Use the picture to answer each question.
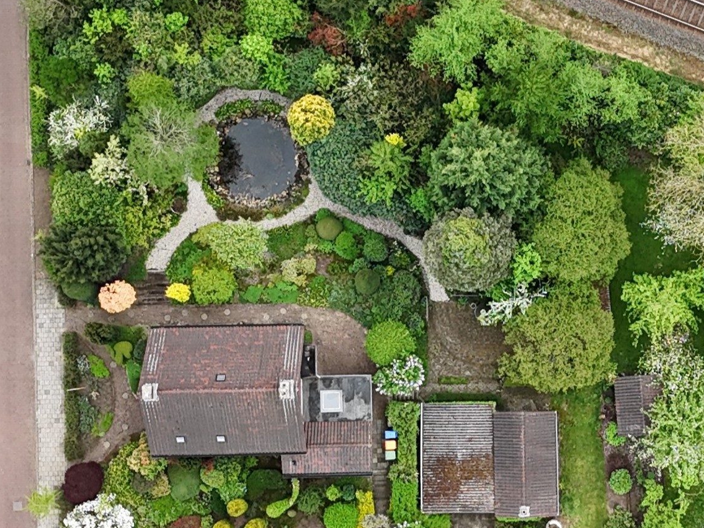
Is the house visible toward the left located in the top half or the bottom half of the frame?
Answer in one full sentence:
The bottom half of the photo is where the house visible toward the left is.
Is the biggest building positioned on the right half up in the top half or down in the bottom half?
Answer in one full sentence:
You can find the biggest building positioned on the right half in the bottom half.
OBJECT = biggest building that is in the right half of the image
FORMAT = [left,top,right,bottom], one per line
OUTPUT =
[420,403,560,520]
